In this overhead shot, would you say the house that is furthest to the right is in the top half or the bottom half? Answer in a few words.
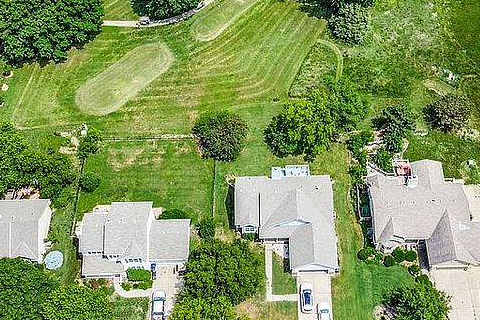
bottom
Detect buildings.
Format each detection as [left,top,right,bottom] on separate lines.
[77,200,190,279]
[234,162,339,275]
[0,199,53,270]
[365,156,480,270]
